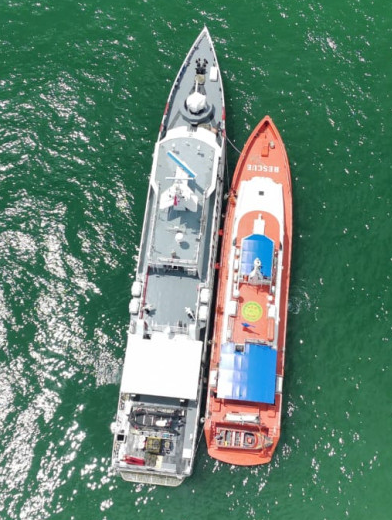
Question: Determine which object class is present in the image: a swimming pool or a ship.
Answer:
ship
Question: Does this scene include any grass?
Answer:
No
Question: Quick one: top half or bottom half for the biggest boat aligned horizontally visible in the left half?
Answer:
bottom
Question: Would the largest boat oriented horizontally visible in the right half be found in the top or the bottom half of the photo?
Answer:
bottom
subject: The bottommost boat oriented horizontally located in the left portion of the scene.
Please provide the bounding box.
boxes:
[131,409,179,431]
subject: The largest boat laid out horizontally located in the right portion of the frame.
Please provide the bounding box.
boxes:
[215,427,269,451]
